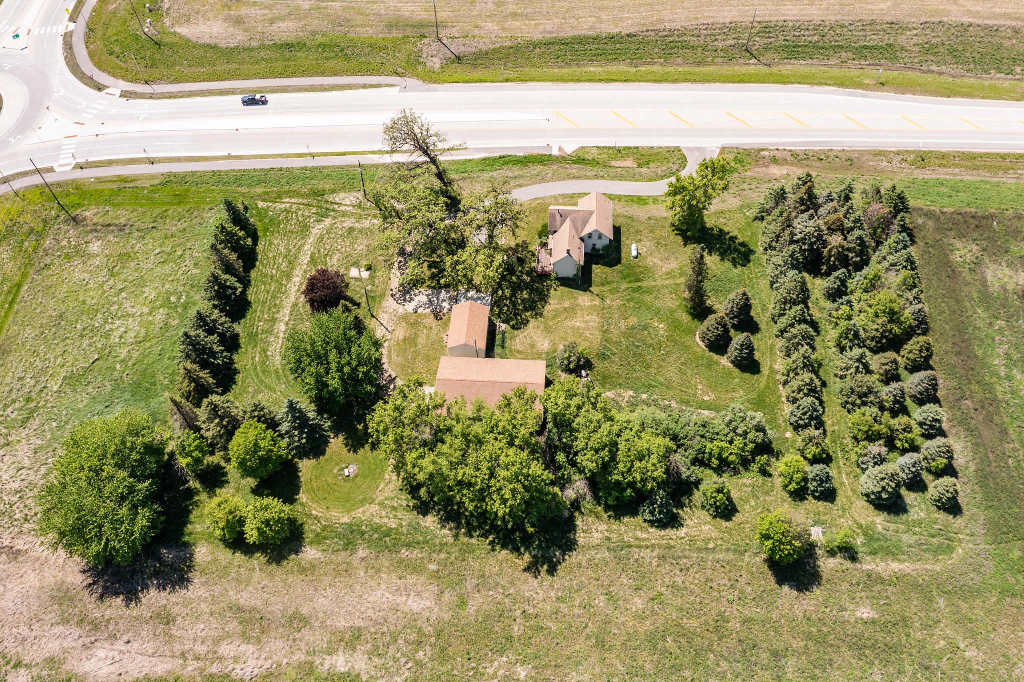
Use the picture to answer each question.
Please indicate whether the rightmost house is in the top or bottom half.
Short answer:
top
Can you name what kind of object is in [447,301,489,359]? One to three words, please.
building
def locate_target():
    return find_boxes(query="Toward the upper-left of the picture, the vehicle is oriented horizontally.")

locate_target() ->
[240,94,269,106]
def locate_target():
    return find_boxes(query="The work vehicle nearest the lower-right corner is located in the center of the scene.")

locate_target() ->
[577,363,593,382]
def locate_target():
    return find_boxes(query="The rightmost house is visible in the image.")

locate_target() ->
[533,190,613,282]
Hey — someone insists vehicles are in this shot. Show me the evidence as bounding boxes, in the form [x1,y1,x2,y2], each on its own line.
[577,363,593,382]
[240,94,269,106]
